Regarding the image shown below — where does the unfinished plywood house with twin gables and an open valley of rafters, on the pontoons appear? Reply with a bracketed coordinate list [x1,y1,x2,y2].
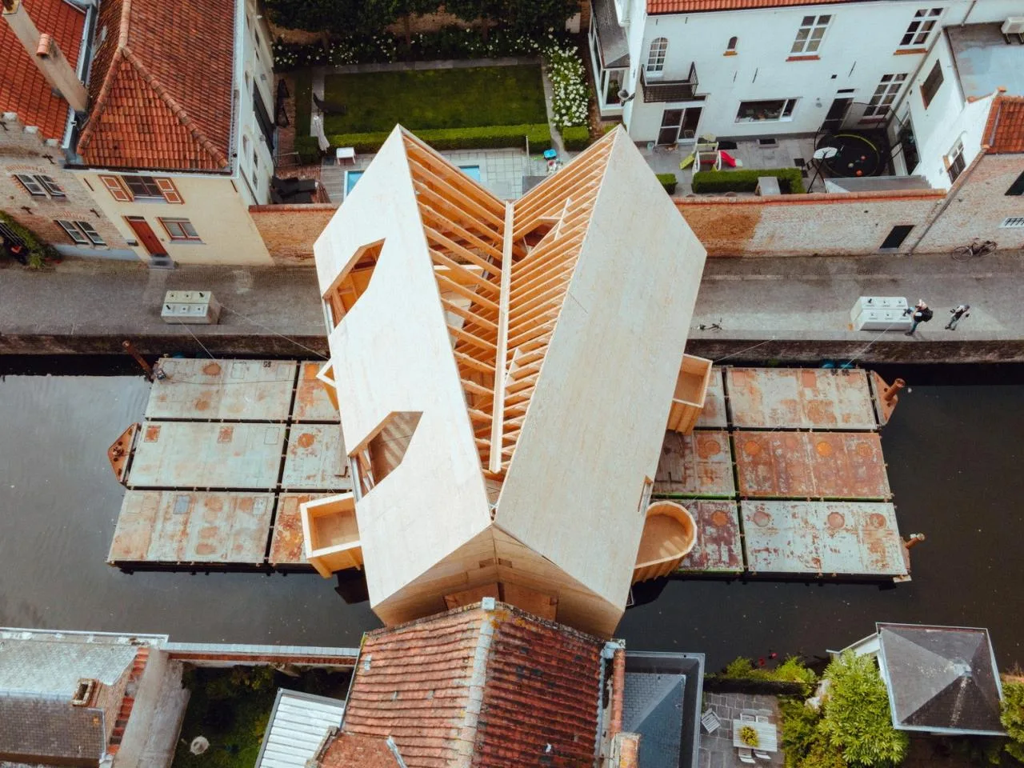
[298,125,714,640]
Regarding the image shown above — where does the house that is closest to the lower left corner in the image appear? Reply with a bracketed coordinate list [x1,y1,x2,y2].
[0,630,188,768]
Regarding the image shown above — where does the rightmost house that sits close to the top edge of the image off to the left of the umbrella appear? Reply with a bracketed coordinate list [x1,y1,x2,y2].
[71,0,274,274]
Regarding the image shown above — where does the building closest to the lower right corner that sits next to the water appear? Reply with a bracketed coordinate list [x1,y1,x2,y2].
[853,624,1007,736]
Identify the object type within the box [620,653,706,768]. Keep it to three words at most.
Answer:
building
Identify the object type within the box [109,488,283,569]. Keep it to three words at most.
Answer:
pier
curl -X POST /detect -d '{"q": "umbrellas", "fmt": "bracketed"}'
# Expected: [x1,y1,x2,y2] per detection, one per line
[310,110,328,153]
